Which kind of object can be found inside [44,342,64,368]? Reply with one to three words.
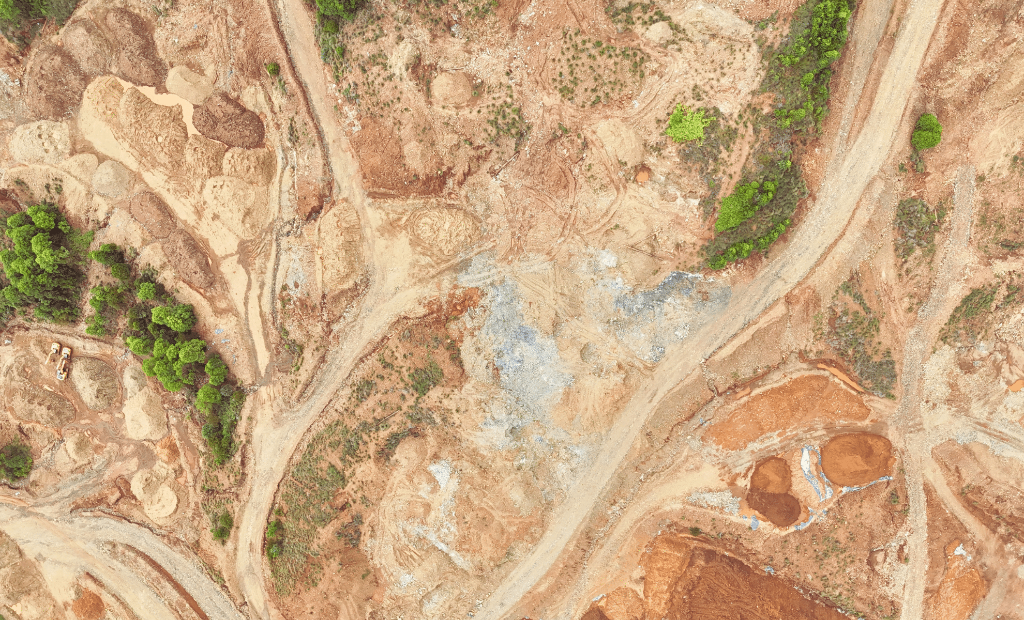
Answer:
work vehicle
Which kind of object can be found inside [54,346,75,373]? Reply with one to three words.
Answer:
work vehicle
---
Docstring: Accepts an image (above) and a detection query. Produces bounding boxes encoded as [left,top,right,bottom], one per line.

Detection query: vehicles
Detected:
[44,342,64,368]
[54,346,75,373]
[55,362,72,385]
